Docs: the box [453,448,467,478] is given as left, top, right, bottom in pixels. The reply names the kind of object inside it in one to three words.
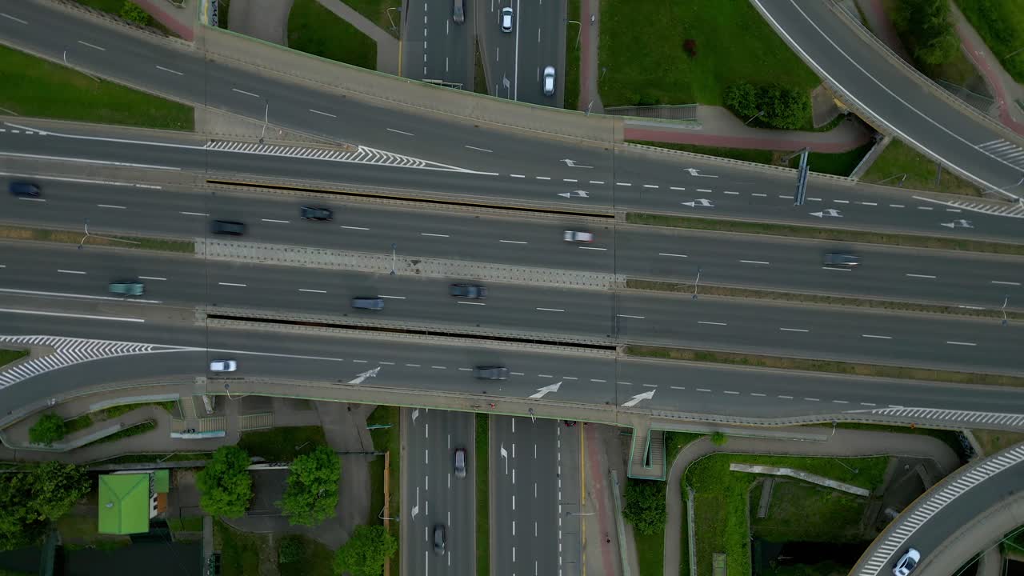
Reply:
car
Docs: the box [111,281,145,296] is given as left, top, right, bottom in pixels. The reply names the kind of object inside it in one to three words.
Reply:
car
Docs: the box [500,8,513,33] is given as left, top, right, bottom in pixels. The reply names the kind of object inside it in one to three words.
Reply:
vehicle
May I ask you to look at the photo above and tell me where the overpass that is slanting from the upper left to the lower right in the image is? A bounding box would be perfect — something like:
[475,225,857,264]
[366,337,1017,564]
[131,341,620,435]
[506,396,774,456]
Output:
[746,0,1024,214]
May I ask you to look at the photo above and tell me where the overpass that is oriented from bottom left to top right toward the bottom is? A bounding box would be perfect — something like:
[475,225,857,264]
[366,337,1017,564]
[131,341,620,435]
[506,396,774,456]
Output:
[844,438,1024,576]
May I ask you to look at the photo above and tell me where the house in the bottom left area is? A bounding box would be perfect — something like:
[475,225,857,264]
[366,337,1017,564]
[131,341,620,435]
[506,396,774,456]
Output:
[98,469,174,535]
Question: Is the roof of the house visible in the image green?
Yes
